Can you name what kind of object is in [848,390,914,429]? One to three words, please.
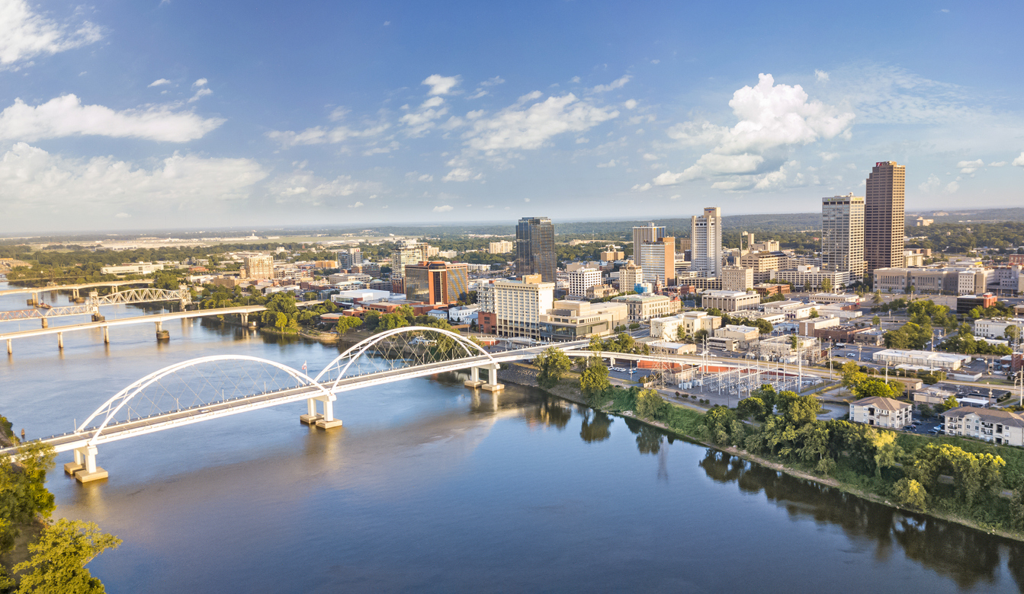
house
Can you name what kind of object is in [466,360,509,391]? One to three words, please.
pier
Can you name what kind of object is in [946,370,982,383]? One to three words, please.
building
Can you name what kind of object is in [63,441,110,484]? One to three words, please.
pier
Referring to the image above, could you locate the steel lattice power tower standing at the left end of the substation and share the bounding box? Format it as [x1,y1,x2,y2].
[654,338,670,386]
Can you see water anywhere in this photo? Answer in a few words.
Yes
